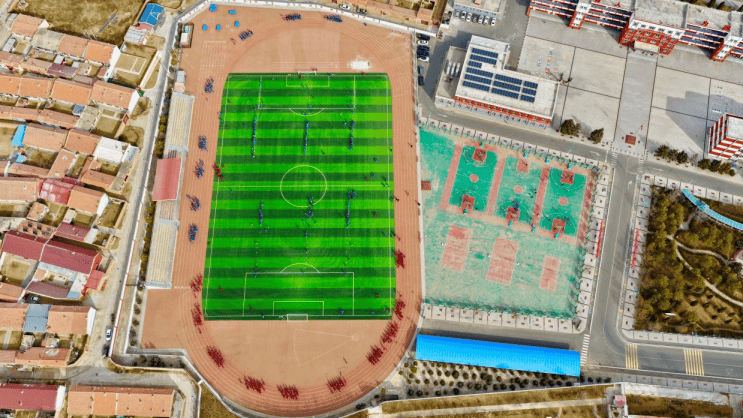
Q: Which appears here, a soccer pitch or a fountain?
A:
soccer pitch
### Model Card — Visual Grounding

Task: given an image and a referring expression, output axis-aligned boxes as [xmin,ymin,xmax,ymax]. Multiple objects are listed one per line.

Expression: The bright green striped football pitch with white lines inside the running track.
[202,72,397,321]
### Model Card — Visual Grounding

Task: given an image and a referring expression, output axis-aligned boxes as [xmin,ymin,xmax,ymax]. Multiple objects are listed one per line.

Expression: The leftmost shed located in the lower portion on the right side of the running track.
[414,334,580,380]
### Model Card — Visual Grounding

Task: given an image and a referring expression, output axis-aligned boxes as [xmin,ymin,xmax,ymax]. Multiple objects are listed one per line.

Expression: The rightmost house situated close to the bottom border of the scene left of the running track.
[115,385,178,417]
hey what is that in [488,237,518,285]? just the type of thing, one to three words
sports court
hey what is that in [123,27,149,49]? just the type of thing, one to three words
building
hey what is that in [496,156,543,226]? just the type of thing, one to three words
basketball court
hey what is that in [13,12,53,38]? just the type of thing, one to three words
house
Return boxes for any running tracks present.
[173,9,424,418]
